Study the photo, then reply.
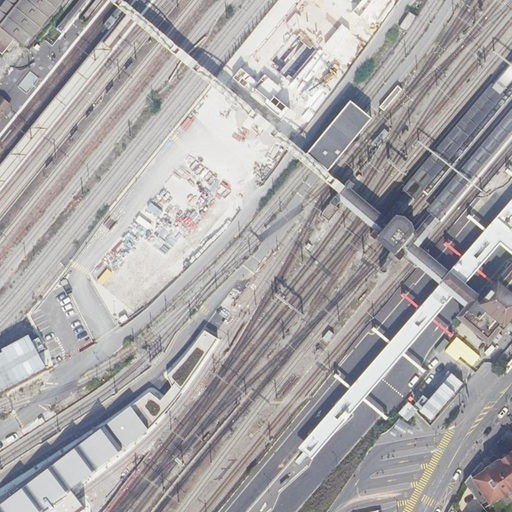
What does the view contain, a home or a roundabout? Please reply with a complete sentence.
There is a home in the scene.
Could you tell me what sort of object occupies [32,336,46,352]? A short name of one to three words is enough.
vehicle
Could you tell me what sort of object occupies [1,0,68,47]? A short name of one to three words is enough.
building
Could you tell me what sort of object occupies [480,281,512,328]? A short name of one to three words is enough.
house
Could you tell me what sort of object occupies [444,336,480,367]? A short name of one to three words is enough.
building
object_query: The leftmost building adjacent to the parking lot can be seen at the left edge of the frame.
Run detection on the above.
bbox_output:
[0,335,47,393]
